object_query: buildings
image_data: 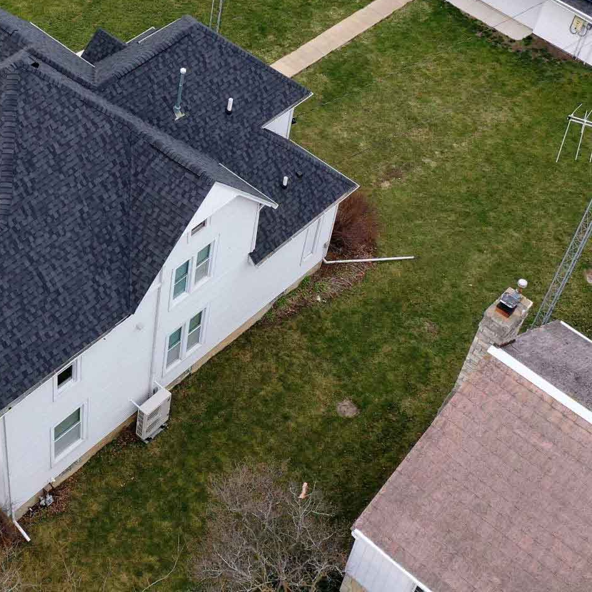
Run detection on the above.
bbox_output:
[345,283,592,592]
[485,0,592,61]
[0,6,414,542]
